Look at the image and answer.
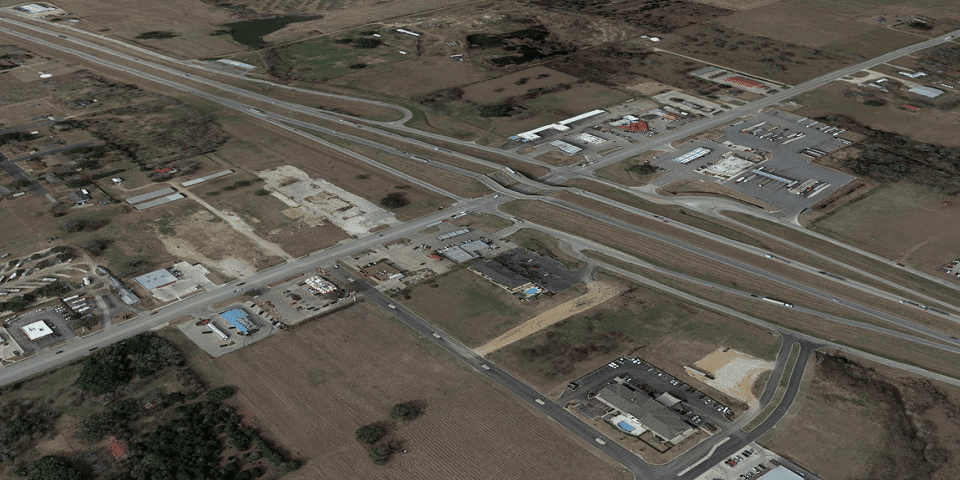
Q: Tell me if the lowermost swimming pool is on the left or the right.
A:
right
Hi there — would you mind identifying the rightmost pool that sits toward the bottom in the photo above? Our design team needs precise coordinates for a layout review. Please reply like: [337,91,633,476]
[611,414,645,435]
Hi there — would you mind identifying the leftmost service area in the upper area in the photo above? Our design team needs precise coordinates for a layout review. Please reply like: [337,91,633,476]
[704,155,745,182]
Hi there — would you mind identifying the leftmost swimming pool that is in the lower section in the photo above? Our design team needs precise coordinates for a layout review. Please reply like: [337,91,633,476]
[518,284,547,300]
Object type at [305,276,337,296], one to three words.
building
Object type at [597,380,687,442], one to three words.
building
